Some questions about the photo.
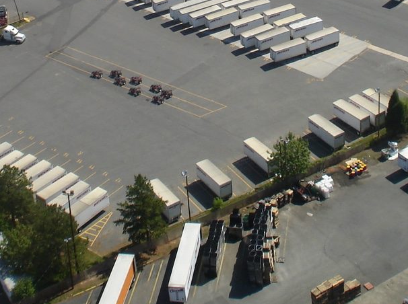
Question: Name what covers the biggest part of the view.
paved ground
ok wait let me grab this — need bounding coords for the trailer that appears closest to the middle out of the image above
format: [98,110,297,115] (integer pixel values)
[197,159,233,201]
